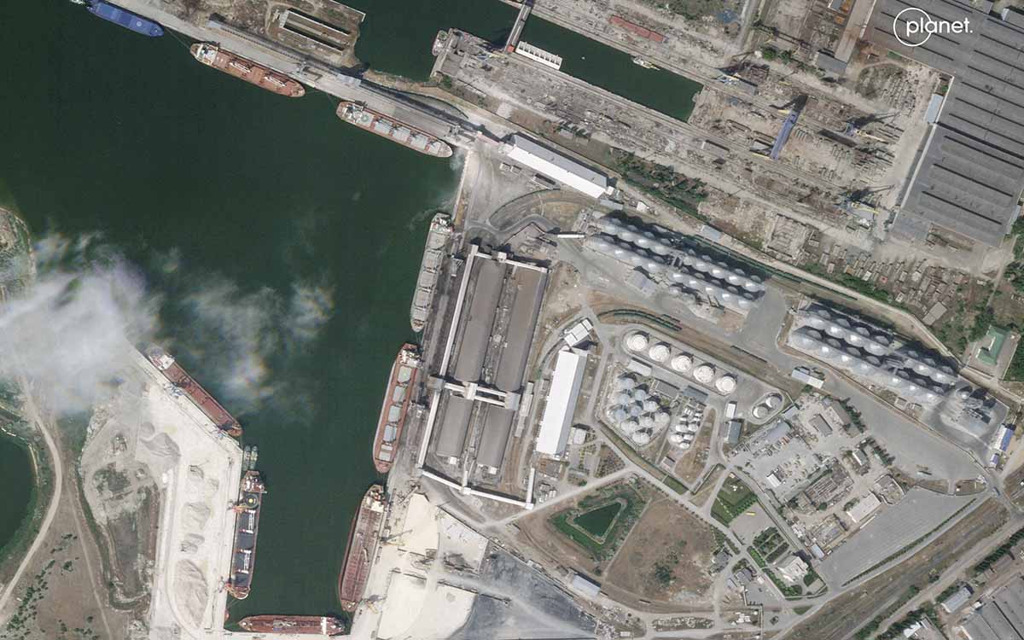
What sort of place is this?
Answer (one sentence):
This image shows a port.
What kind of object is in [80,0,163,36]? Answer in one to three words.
ship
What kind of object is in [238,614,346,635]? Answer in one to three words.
ship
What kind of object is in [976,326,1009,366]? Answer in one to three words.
house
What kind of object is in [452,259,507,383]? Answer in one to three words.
building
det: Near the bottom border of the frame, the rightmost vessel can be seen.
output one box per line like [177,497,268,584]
[341,482,384,612]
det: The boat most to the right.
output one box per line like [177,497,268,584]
[631,56,660,70]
